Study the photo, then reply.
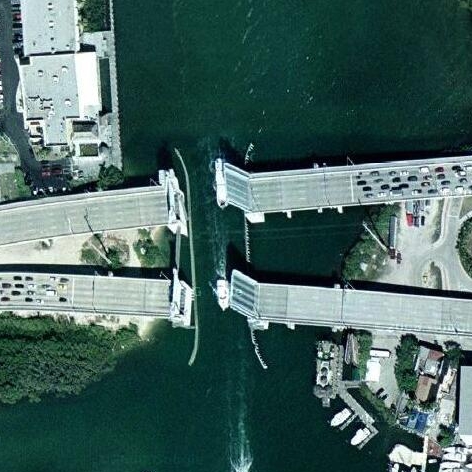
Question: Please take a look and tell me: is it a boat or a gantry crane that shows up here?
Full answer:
Visible in the photo is a boat.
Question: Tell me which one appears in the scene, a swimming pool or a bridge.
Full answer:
The one in the frame is a bridge.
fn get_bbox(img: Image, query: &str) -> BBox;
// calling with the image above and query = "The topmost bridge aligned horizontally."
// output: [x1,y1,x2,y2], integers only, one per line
[0,155,472,244]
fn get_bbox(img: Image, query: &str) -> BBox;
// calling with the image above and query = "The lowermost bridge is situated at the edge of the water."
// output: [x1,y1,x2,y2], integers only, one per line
[0,268,472,336]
